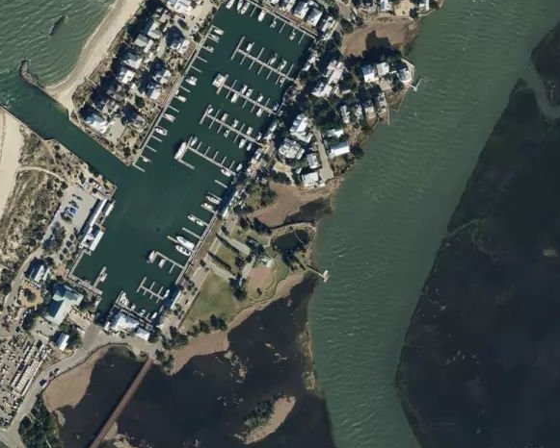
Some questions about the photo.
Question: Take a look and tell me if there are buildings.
Yes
